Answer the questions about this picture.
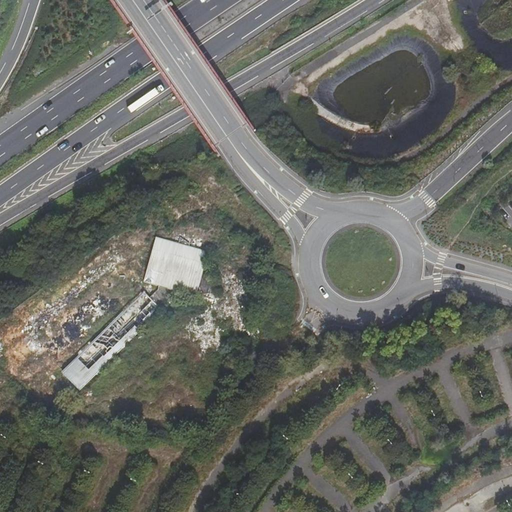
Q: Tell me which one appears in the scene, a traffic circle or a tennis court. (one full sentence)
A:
Looking from above, you can make out a traffic circle.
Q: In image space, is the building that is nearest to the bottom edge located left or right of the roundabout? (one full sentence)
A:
You can see the building that is nearest to the bottom edge positioned to the left of the roundabout.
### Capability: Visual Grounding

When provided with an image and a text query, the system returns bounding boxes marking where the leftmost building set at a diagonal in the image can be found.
[61,292,156,390]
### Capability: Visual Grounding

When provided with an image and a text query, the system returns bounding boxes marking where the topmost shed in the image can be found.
[143,236,202,290]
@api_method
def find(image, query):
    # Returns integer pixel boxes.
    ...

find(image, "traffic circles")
[300,202,422,322]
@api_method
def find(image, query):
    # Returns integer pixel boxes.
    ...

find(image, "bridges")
[109,0,256,154]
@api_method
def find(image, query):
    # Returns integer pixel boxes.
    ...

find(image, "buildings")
[143,236,202,290]
[61,292,156,390]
